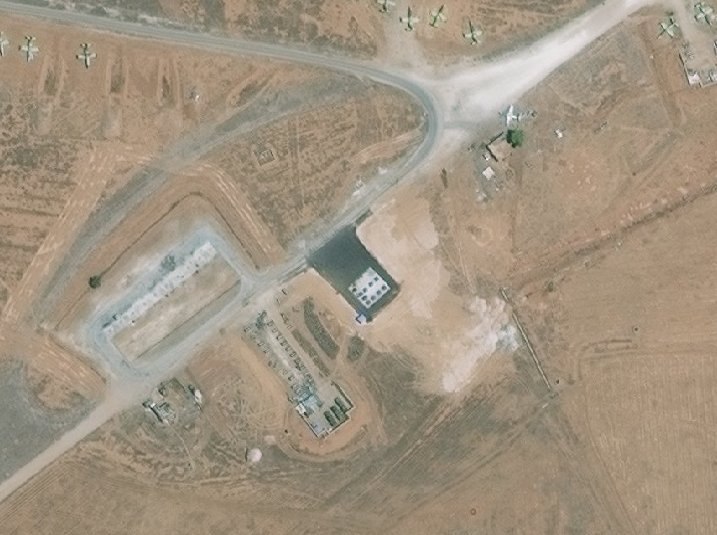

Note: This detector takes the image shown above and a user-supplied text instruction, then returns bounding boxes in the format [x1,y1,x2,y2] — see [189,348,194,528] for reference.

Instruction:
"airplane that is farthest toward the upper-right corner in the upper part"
[695,2,716,25]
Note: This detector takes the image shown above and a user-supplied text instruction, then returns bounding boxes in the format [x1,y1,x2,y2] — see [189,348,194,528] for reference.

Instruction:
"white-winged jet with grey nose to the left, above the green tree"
[499,105,522,125]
